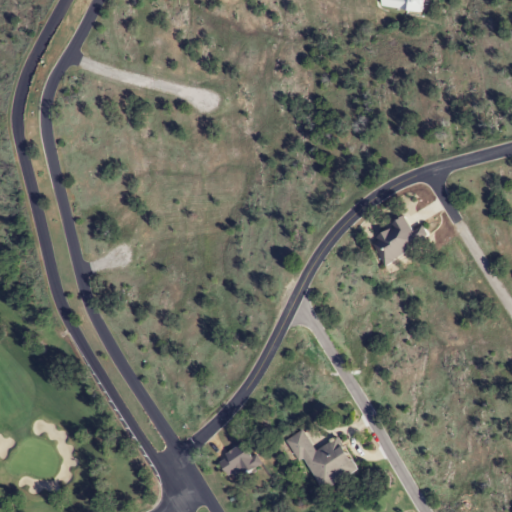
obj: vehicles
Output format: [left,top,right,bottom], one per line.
[354,445,364,456]
[350,438,356,447]
[210,442,218,452]
[372,432,380,442]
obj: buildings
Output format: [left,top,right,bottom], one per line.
[377,215,430,265]
[380,0,424,12]
[220,447,262,476]
[286,430,358,486]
